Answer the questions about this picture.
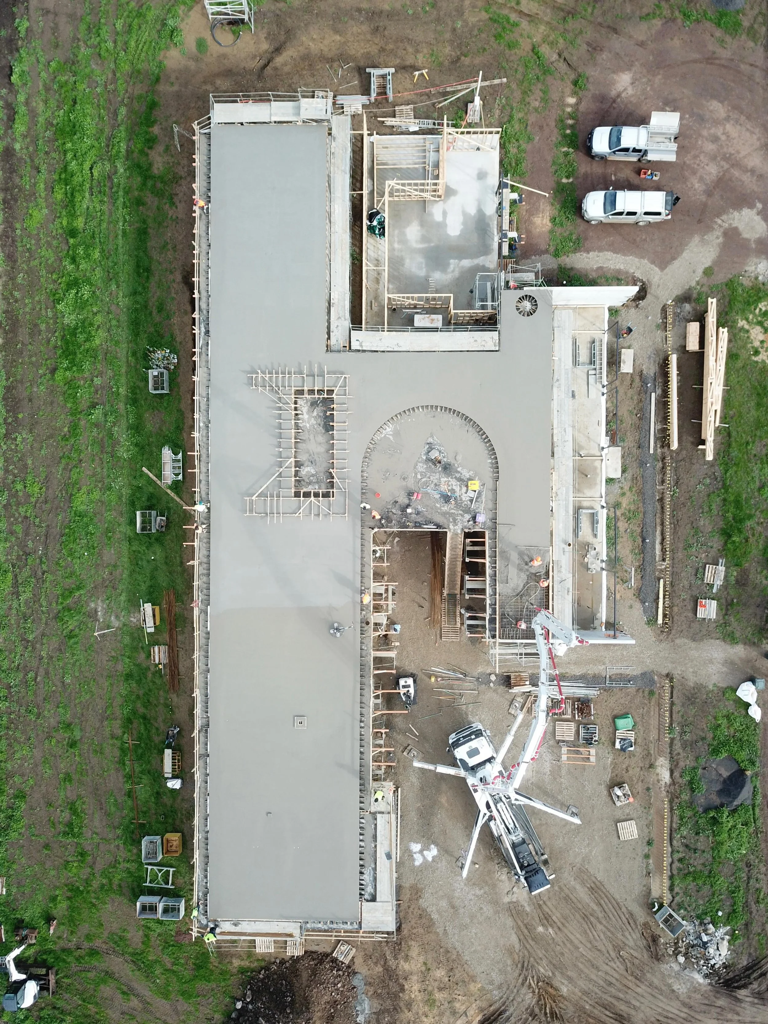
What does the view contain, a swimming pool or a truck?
truck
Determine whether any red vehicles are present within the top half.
No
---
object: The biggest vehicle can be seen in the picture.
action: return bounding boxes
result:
[411,600,590,895]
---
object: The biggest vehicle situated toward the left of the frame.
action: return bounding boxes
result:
[2,935,57,1010]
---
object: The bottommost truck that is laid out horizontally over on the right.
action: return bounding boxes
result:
[580,183,679,224]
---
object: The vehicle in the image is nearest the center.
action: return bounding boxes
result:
[396,674,417,711]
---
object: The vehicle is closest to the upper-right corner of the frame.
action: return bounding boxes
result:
[585,106,687,161]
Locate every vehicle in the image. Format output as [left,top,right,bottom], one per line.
[2,935,57,1010]
[585,106,687,161]
[411,600,590,895]
[580,183,679,224]
[396,674,417,711]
